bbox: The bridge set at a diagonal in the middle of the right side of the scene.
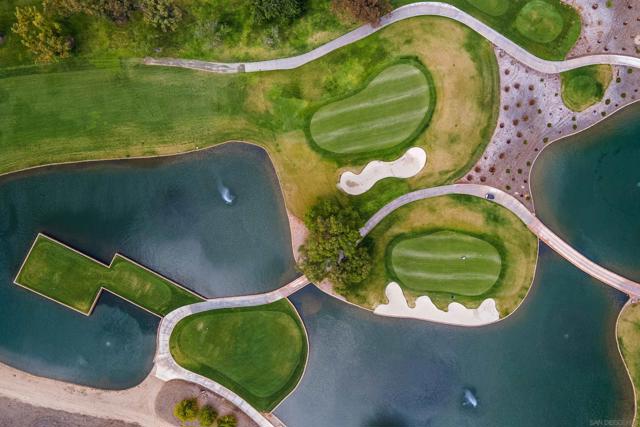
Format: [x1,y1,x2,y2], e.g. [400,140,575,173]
[533,214,638,298]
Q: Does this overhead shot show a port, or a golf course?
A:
golf course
